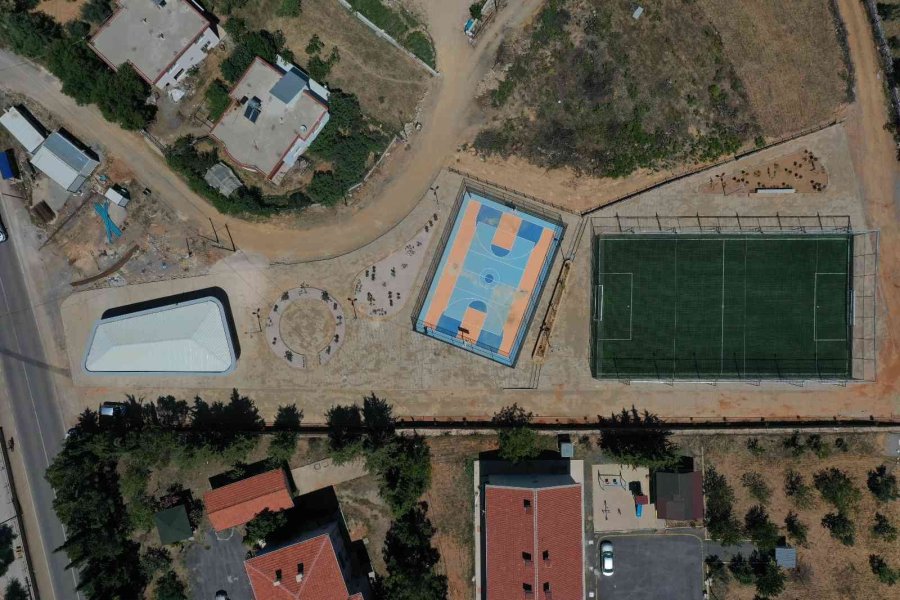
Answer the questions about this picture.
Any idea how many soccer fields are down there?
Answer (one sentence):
Only 1 soccer field is visible.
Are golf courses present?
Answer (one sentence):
No, this view has no golf course in it.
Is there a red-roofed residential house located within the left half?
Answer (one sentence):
Yes, I can see a red-roofed residential house within the left half.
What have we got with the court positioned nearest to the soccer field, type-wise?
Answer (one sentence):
It turns out the court positioned nearest to the soccer field is a basketball court.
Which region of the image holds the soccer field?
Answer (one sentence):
The soccer field sits in the right section of the image.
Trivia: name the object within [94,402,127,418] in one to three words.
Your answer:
car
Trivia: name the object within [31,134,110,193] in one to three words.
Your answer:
shed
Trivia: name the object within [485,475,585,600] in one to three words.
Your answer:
building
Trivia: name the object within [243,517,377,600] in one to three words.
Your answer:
house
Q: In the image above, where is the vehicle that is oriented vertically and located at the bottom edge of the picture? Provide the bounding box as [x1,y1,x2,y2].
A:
[600,543,616,578]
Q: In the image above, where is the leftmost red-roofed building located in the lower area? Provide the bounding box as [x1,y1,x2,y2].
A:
[204,466,295,531]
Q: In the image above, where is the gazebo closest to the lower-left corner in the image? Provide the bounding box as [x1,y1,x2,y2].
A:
[155,501,199,544]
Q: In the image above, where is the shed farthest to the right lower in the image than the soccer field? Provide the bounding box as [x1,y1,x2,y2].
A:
[768,542,797,567]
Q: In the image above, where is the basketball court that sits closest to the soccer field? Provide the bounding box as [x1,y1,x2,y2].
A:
[414,189,564,366]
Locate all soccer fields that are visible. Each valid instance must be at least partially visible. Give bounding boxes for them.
[590,228,854,384]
